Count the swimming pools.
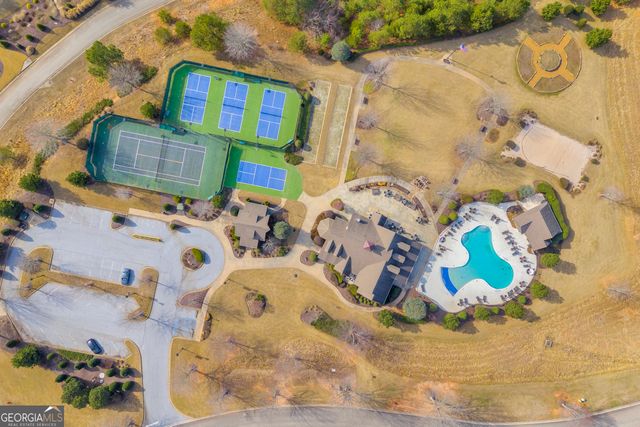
1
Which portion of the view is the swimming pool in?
right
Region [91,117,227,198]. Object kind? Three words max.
tennis court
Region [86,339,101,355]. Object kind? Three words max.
car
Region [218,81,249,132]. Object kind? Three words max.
sports court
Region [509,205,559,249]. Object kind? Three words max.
building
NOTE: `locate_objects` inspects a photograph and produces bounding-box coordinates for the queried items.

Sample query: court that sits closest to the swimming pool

[511,124,589,184]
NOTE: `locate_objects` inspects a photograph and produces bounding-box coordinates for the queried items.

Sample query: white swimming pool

[416,201,538,312]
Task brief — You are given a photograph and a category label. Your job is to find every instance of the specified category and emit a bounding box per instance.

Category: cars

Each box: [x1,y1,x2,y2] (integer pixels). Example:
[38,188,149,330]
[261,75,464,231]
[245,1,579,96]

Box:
[119,268,129,286]
[86,339,101,355]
